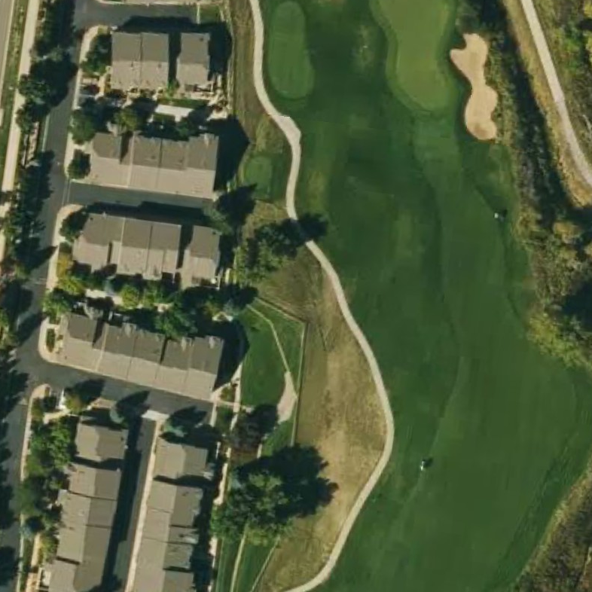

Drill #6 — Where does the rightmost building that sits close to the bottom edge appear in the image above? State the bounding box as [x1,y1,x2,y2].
[132,437,209,592]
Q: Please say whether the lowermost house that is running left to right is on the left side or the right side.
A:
left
